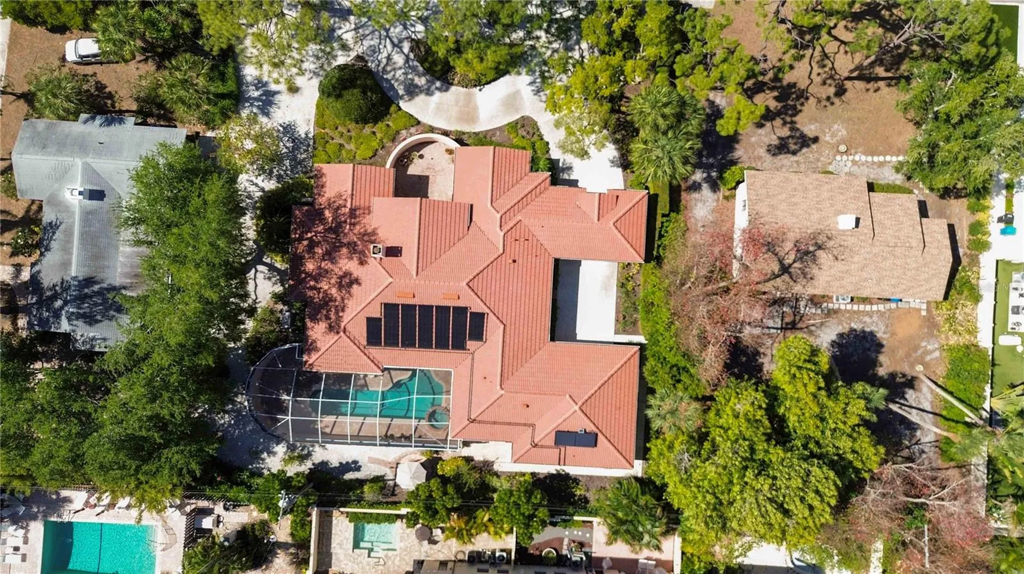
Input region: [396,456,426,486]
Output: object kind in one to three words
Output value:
umbrella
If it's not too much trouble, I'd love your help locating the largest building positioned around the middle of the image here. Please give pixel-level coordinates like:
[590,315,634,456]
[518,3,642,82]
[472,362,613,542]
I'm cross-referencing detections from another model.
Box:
[284,145,649,470]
